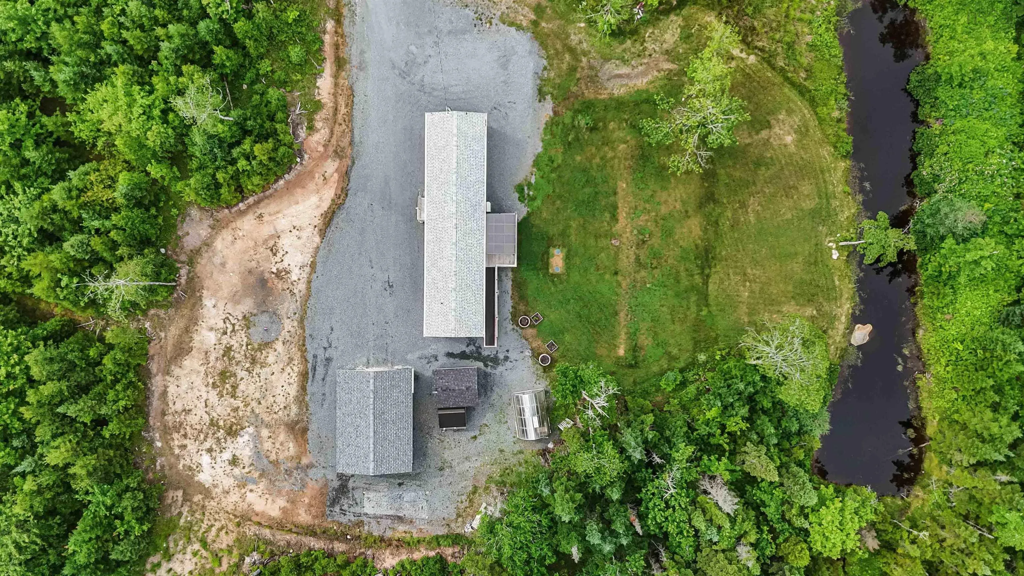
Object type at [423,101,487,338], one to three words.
house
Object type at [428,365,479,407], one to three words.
shed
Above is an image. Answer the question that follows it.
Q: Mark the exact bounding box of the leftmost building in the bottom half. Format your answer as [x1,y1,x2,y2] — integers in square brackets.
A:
[337,367,416,478]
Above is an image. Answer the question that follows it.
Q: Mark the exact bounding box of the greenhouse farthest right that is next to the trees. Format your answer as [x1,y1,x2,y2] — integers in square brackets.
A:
[512,389,550,441]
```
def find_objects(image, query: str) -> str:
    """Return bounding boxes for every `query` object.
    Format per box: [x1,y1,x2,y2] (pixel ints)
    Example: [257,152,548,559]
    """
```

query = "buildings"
[337,367,416,478]
[428,365,479,407]
[423,101,487,338]
[512,389,550,441]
